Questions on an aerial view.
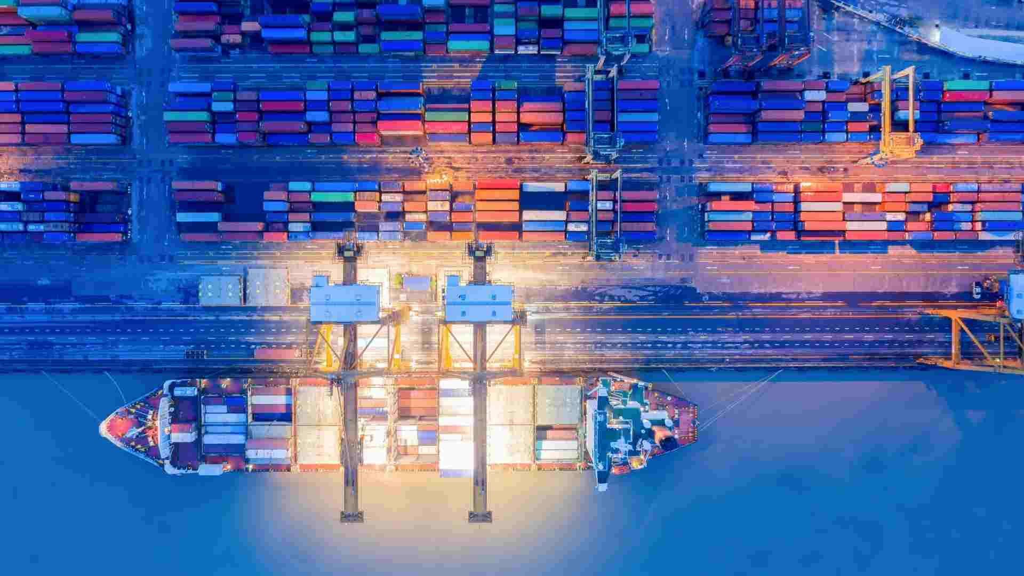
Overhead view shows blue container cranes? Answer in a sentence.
Yes, a blue container crane is visible in the scene.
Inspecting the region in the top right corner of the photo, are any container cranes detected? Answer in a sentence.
Yes, the scene does show a container crane in the top right corner of the photo.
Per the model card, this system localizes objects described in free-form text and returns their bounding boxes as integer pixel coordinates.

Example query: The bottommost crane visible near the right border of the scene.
[930,273,1024,375]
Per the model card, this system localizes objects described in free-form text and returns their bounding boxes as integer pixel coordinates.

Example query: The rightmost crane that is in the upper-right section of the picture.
[855,65,924,165]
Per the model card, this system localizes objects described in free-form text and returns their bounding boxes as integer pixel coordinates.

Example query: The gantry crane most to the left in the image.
[307,233,415,524]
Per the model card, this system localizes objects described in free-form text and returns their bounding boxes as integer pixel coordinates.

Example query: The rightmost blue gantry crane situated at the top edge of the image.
[759,0,821,66]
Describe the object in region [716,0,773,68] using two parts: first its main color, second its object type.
blue container crane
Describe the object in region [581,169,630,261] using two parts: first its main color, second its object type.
blue container crane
